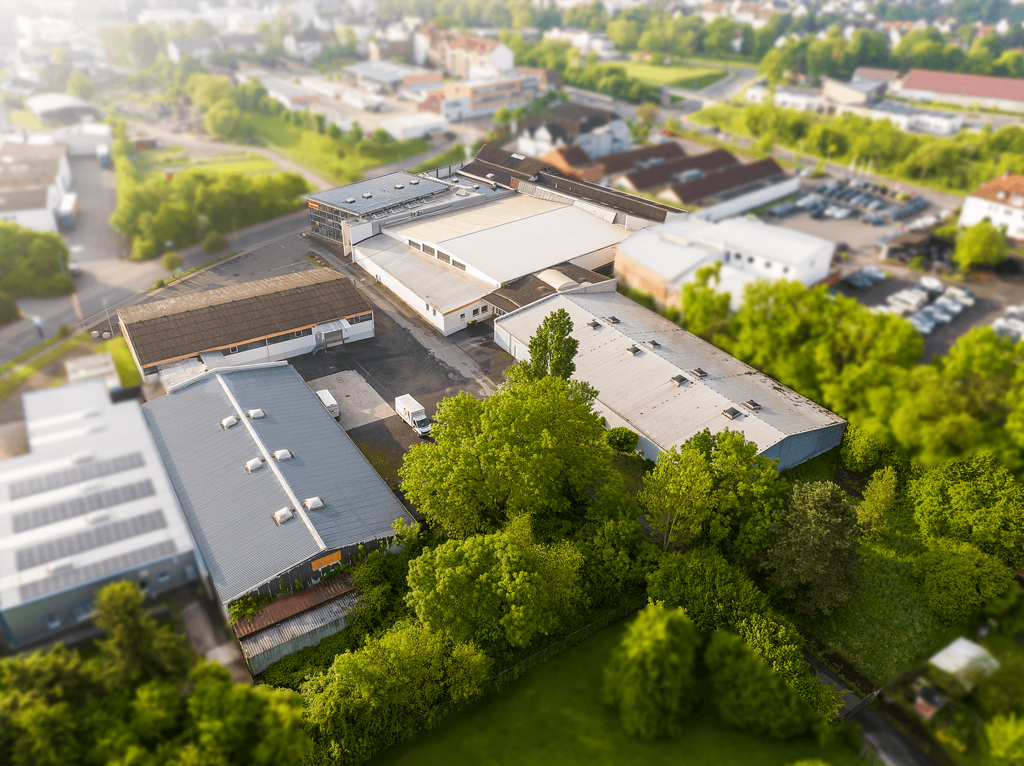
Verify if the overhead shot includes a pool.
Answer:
No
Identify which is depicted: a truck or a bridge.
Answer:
truck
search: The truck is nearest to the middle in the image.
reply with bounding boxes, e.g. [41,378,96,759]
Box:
[396,396,431,436]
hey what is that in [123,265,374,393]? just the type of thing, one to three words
building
